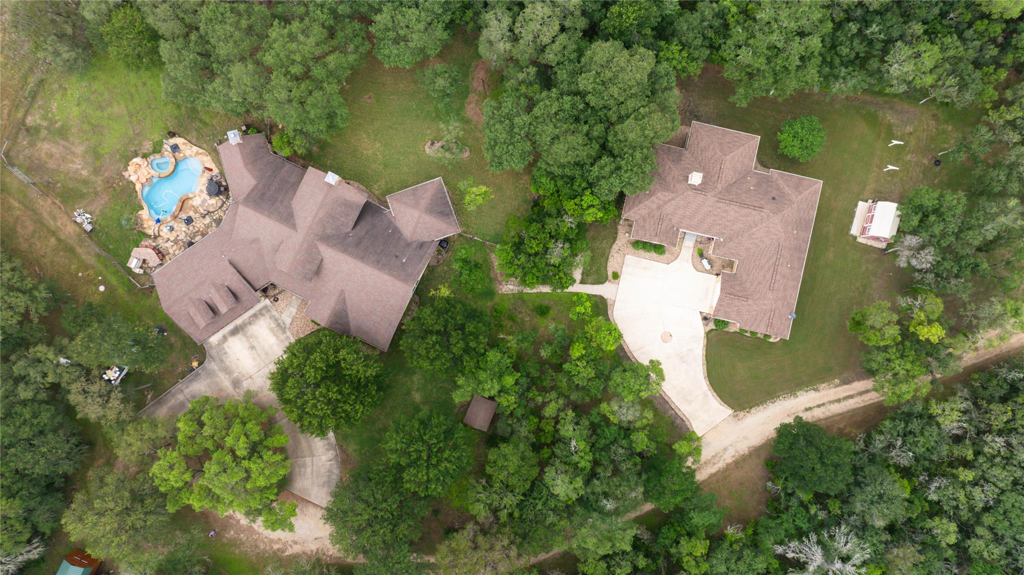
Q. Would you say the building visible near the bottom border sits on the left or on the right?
left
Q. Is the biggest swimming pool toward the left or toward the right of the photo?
left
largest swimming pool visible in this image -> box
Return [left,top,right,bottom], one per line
[137,156,202,223]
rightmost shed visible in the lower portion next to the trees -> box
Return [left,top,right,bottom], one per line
[463,396,494,434]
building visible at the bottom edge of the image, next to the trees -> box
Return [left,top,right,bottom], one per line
[58,546,115,575]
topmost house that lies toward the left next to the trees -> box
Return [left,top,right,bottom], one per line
[152,129,461,352]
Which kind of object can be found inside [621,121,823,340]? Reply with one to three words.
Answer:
house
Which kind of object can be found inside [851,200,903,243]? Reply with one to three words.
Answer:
shed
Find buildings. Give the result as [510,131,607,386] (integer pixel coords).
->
[851,200,903,243]
[621,121,823,340]
[58,546,115,575]
[152,129,461,352]
[463,396,494,434]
